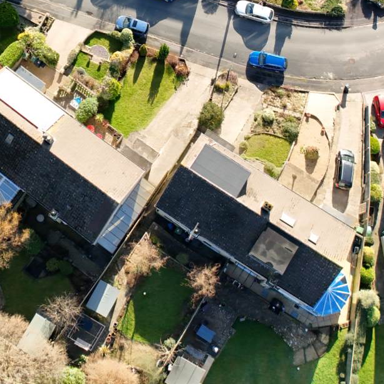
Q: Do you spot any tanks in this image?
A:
No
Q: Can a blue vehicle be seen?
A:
Yes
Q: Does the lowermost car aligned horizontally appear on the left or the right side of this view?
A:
right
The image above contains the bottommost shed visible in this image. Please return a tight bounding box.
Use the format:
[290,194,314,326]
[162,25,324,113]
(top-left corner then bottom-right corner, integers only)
[155,338,223,384]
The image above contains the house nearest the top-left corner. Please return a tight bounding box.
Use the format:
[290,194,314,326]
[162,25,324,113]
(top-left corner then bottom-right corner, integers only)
[0,61,155,261]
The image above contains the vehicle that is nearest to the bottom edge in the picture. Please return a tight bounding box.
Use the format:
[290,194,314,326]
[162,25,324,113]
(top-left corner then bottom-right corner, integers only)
[334,148,357,191]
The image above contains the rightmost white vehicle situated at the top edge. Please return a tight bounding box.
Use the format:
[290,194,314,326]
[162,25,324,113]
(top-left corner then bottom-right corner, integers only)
[233,1,276,26]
